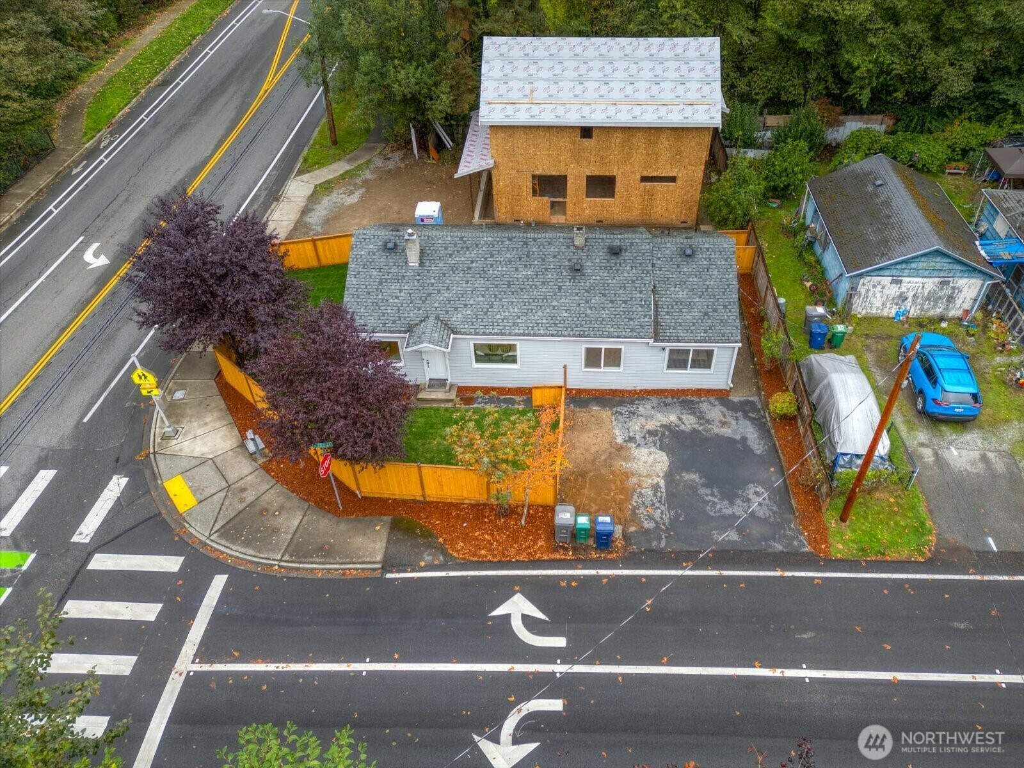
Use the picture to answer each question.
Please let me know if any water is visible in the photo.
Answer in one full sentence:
No, the picture contains no water.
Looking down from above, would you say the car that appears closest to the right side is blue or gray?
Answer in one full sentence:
From above, the car that appears closest to the right side appears blue.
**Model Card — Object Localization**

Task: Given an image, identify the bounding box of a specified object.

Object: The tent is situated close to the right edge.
[970,151,1024,187]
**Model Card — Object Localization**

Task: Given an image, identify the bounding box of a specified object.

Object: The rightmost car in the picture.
[899,334,985,421]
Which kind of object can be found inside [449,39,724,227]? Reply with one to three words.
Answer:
house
